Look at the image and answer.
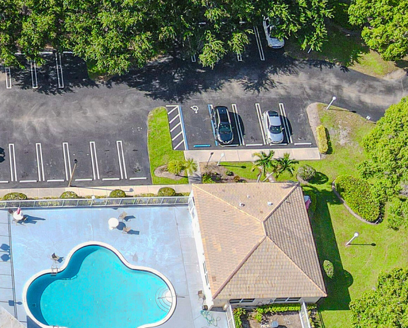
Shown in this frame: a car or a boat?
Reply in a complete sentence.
The one in the frame is a car.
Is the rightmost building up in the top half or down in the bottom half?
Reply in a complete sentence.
It is in the bottom half that the rightmost building appears.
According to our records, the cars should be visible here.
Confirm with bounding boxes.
[262,110,285,146]
[260,12,282,46]
[211,107,236,145]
